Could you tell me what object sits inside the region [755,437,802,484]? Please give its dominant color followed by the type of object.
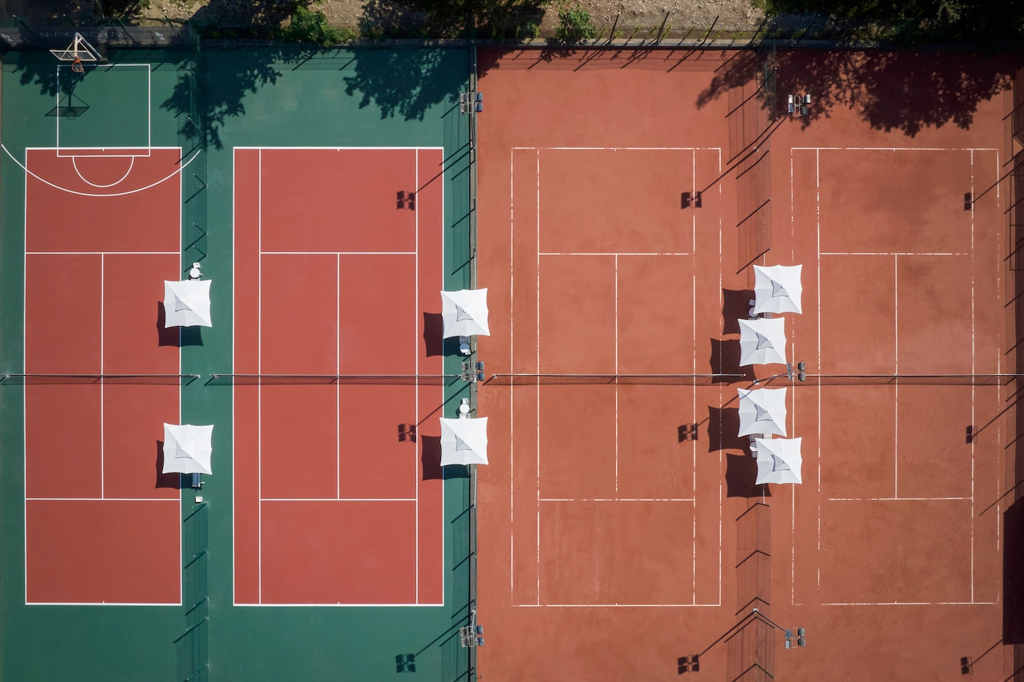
white umbrella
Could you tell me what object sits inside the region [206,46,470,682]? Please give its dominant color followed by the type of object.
red tennis court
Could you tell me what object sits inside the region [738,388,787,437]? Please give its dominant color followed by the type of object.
white umbrella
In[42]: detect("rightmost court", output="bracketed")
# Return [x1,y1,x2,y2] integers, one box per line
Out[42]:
[757,46,1024,682]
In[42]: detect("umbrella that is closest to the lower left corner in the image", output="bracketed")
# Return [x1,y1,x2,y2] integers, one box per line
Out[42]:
[163,423,213,475]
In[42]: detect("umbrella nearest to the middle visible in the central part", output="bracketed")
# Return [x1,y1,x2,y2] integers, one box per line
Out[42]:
[441,288,490,338]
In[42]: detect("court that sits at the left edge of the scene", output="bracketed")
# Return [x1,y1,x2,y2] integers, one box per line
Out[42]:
[2,46,206,682]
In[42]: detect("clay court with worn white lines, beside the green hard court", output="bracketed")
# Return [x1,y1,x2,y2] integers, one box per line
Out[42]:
[477,46,757,682]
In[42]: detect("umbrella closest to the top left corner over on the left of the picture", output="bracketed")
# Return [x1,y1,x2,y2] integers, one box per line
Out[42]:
[164,280,212,328]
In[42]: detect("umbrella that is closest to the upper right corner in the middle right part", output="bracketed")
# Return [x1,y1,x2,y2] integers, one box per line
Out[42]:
[753,264,802,314]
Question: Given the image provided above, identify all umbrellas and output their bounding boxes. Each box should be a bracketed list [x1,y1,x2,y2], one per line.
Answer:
[738,317,786,366]
[163,423,213,475]
[753,264,802,314]
[441,288,490,338]
[164,280,212,328]
[755,437,802,484]
[738,388,787,437]
[440,417,488,466]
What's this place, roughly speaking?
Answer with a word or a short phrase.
sports ground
